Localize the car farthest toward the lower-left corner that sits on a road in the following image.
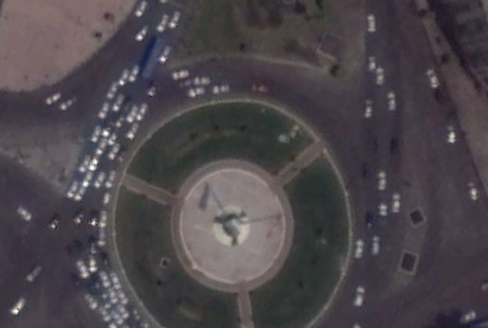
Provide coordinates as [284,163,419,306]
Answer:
[12,299,25,313]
